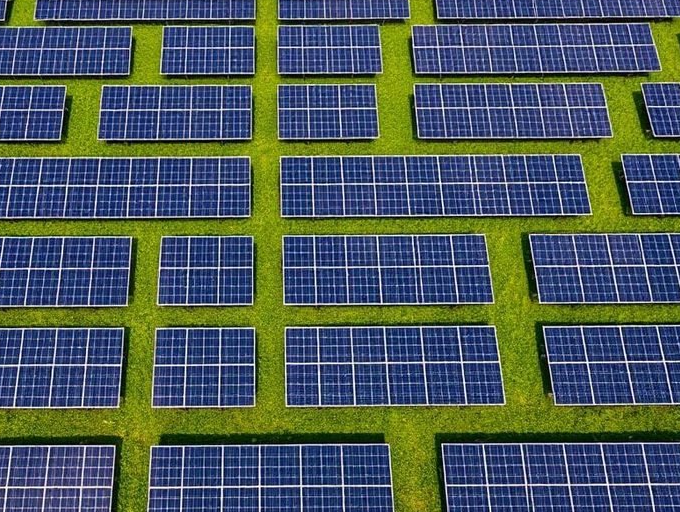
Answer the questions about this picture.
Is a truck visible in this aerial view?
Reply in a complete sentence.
No, no truck is visible in the scene.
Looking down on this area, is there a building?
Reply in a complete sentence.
No, no building can be seen from above.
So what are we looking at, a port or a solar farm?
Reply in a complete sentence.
It's a solar farm.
